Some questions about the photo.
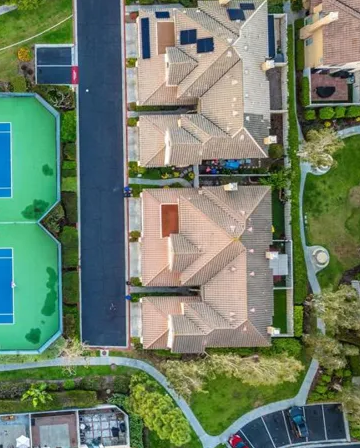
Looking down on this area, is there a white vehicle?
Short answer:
No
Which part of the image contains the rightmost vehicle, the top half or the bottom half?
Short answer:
bottom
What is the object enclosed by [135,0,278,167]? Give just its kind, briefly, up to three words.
house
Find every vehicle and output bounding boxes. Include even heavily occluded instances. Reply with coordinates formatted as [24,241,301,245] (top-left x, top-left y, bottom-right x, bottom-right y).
[287,404,312,441]
[231,435,252,448]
